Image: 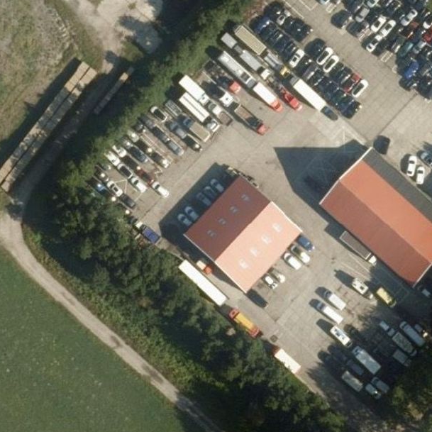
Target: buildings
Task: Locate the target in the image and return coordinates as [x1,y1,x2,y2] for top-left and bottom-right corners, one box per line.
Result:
[183,174,303,293]
[320,147,432,288]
